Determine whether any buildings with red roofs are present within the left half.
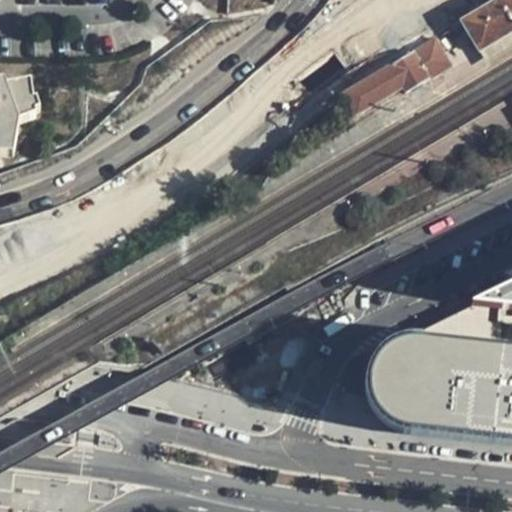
No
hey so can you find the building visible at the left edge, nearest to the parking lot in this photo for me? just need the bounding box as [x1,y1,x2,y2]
[0,72,42,168]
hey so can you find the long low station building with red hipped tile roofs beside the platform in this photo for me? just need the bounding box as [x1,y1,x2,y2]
[342,36,452,117]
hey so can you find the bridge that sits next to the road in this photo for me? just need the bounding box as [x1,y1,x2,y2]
[0,178,512,473]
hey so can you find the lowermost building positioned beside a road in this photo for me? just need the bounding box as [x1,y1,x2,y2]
[364,329,512,446]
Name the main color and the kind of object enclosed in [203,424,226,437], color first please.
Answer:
white vehicle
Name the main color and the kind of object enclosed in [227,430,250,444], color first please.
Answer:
white vehicle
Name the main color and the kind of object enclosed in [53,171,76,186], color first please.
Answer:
white car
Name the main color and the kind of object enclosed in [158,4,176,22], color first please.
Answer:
white car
